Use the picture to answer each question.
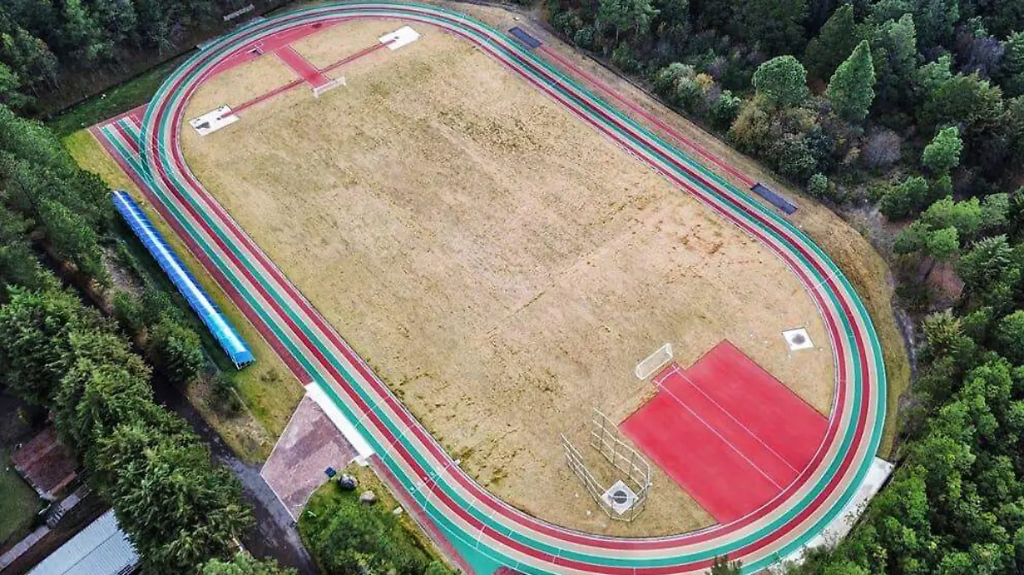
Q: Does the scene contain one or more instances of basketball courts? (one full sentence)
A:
No, there isn't any basketball court down there.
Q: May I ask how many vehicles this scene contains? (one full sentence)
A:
I count no vehicles.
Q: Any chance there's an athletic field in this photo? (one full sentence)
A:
Yes, there's an athletic field here.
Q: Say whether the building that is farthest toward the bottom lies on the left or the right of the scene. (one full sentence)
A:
The building that is farthest toward the bottom is on the left side of the image.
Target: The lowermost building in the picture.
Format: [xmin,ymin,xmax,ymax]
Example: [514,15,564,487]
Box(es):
[14,511,141,575]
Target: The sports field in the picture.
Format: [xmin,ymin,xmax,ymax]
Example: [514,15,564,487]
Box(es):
[182,19,832,534]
